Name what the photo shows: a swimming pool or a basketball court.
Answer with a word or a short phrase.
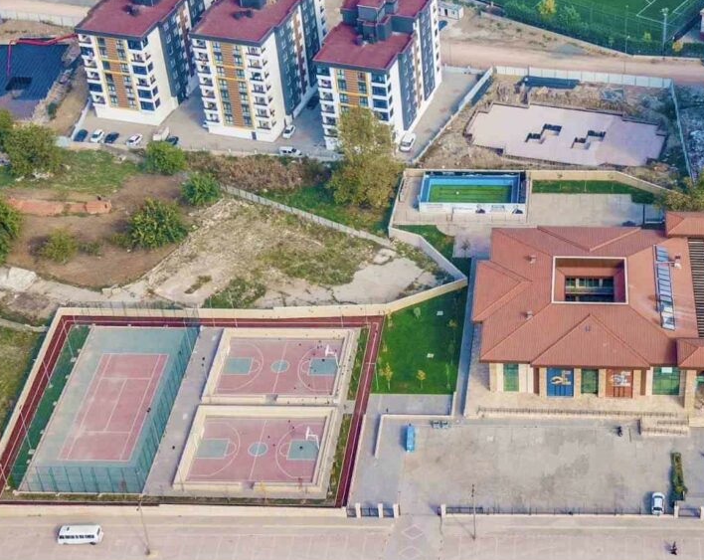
basketball court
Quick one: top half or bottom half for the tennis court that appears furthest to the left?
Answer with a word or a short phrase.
bottom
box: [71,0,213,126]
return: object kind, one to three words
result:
building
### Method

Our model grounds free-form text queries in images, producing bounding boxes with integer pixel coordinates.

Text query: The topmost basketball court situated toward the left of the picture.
[201,327,353,404]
